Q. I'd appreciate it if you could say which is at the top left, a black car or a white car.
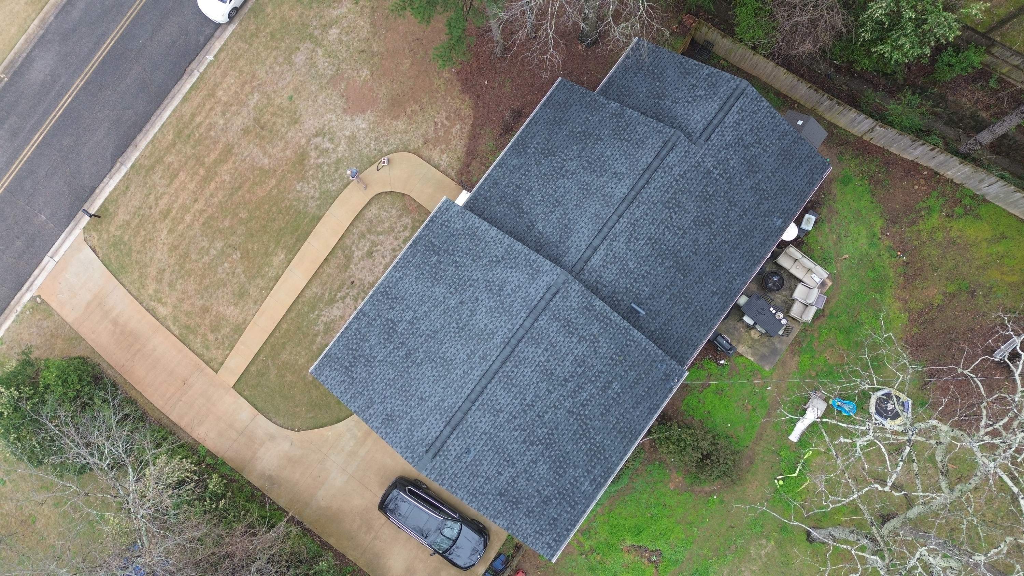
white car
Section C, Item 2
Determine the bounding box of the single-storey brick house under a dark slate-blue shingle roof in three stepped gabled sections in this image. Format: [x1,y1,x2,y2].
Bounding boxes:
[307,35,834,564]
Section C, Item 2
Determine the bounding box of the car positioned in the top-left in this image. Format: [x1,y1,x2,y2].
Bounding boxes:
[194,0,247,23]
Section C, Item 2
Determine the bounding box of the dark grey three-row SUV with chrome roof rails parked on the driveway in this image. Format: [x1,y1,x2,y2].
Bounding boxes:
[377,475,490,569]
